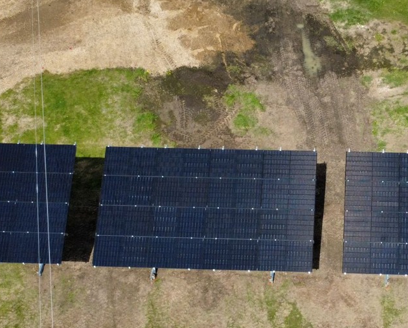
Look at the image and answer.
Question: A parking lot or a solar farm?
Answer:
solar farm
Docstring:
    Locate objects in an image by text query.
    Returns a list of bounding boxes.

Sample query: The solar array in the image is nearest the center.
[93,143,317,283]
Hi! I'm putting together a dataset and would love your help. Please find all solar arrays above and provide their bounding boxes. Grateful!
[0,140,76,276]
[343,148,408,288]
[93,143,317,283]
